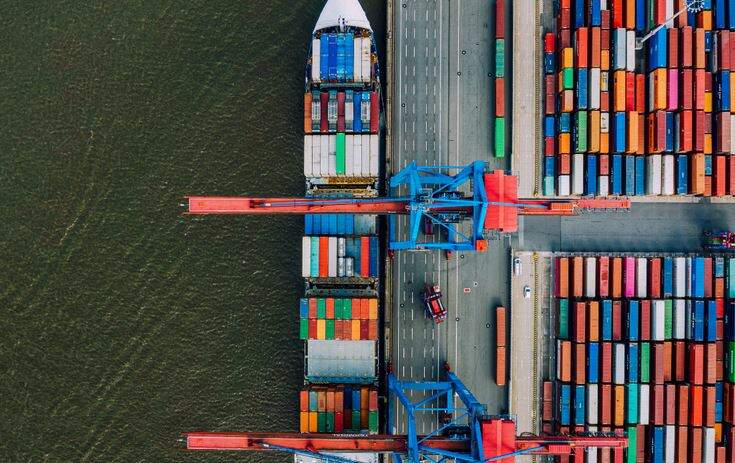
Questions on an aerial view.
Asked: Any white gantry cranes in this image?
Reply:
No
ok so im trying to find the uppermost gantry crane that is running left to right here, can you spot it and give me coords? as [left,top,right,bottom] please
[179,158,630,258]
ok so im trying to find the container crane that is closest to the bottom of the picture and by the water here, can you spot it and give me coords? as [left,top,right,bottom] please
[179,359,629,463]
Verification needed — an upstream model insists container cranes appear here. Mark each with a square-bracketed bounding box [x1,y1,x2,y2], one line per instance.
[179,359,629,463]
[179,158,630,258]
